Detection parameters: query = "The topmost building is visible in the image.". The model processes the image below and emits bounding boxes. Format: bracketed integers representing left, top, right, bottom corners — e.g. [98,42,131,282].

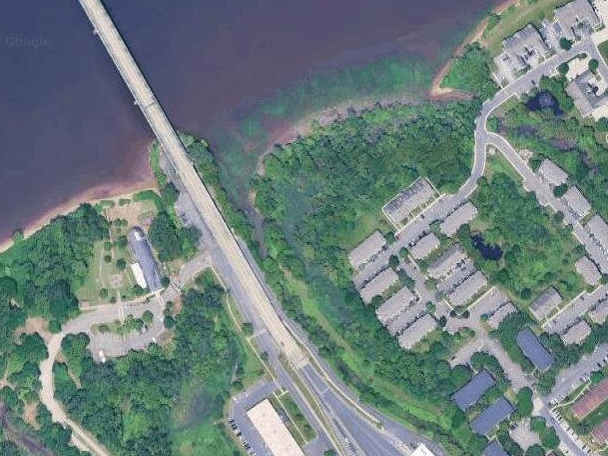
[554,0,600,40]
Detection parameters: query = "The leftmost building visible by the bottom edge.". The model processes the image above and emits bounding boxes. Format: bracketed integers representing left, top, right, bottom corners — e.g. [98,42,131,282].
[246,398,304,456]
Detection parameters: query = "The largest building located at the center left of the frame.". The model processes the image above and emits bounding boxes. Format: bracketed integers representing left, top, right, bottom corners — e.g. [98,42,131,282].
[133,228,163,291]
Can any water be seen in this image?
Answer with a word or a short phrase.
Yes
